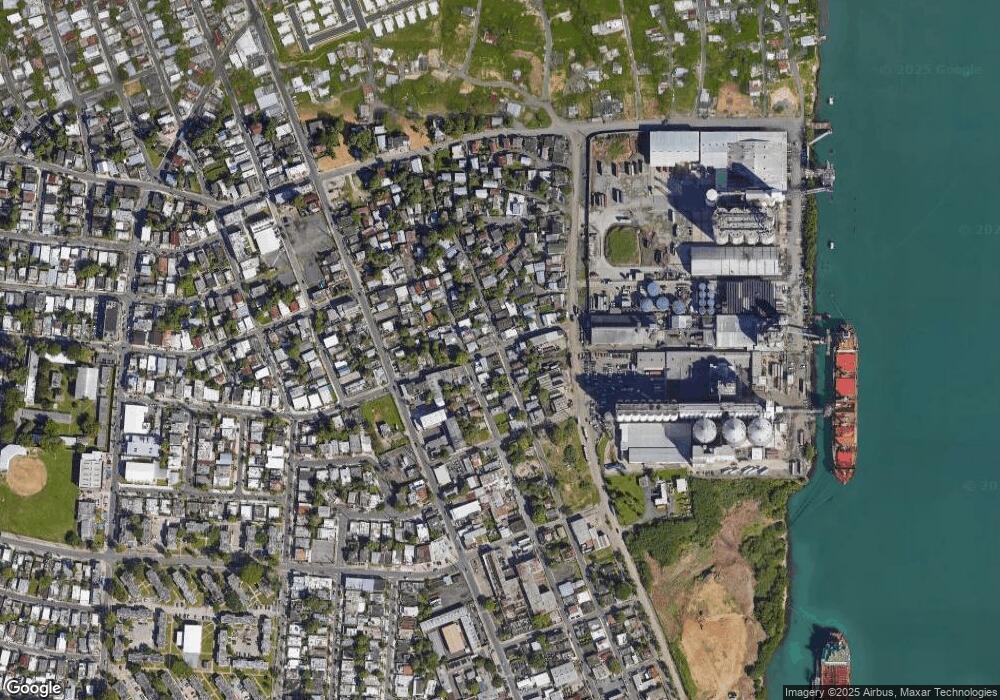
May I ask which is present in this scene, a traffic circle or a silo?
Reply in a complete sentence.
It is a silo that can be seen here.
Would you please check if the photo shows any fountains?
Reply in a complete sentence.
No, there appears to be no fountain in this shot.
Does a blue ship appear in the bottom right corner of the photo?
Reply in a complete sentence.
No, no blue ship appears in the bottom right corner of the photo.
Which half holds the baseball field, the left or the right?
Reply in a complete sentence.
You can find the baseball field on the left side of the picture.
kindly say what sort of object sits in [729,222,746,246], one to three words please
silo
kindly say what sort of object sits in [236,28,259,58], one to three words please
building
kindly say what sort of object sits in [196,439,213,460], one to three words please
house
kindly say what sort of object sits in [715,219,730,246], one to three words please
silo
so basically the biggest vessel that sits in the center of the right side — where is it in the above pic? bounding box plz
[834,321,862,484]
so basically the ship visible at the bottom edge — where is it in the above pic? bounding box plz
[820,629,853,700]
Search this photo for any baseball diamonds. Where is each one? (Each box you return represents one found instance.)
[0,446,77,546]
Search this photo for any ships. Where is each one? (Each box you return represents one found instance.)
[834,321,862,484]
[820,629,853,700]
